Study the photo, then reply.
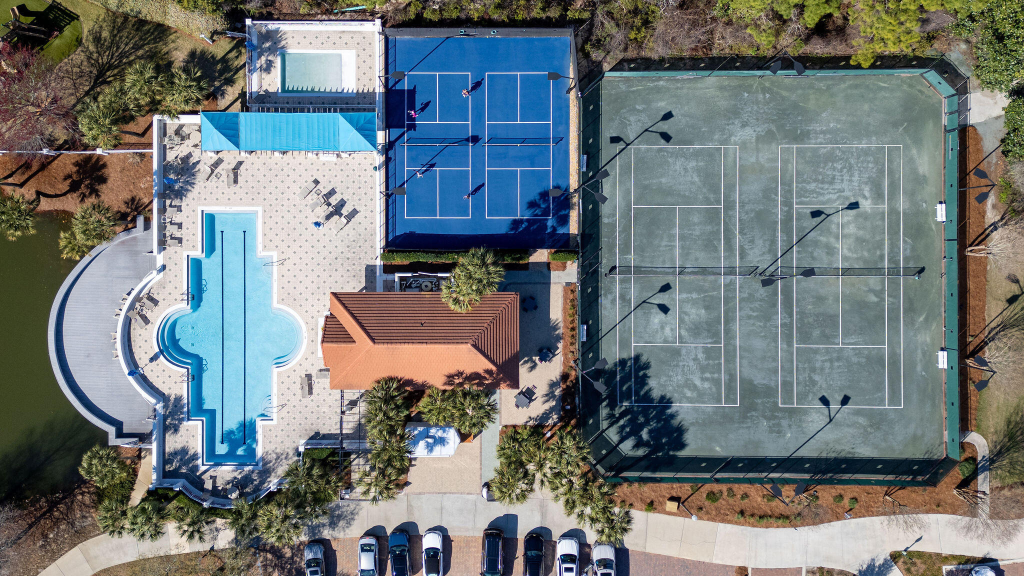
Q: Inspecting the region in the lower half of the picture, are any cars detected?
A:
Yes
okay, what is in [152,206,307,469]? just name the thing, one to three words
swimming pool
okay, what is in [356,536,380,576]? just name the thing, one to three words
car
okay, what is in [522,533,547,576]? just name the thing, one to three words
car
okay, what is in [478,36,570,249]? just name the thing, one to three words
sports court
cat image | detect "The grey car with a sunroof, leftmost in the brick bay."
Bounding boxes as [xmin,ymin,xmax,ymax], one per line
[301,542,326,576]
